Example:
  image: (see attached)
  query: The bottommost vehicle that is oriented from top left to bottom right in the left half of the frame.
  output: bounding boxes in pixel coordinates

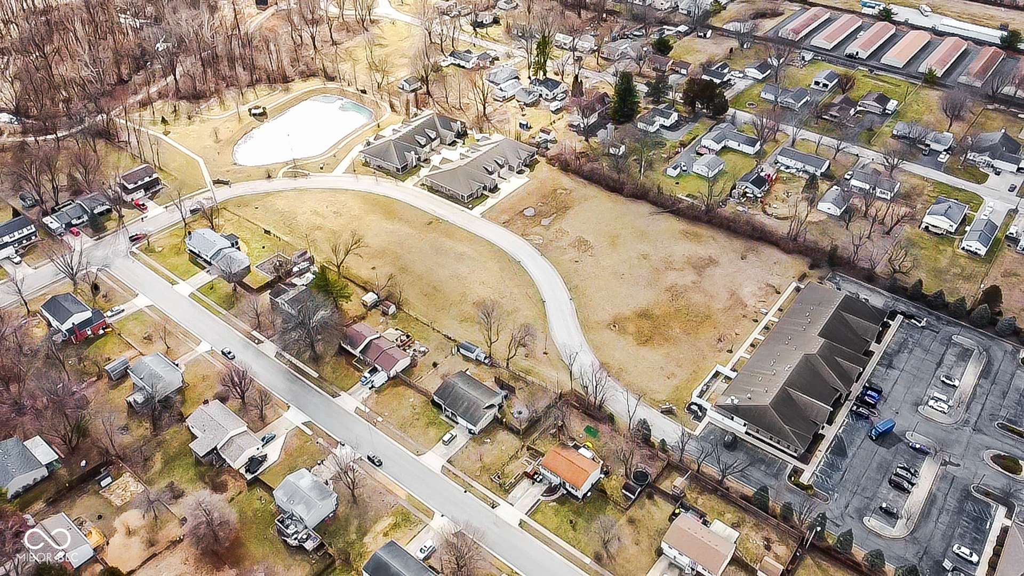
[365,450,383,465]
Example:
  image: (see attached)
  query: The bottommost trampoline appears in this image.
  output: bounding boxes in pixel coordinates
[630,466,654,485]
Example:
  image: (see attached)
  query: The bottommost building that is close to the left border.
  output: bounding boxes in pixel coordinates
[22,508,104,576]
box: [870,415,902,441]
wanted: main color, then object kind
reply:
blue truck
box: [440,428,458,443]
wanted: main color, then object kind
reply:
white car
